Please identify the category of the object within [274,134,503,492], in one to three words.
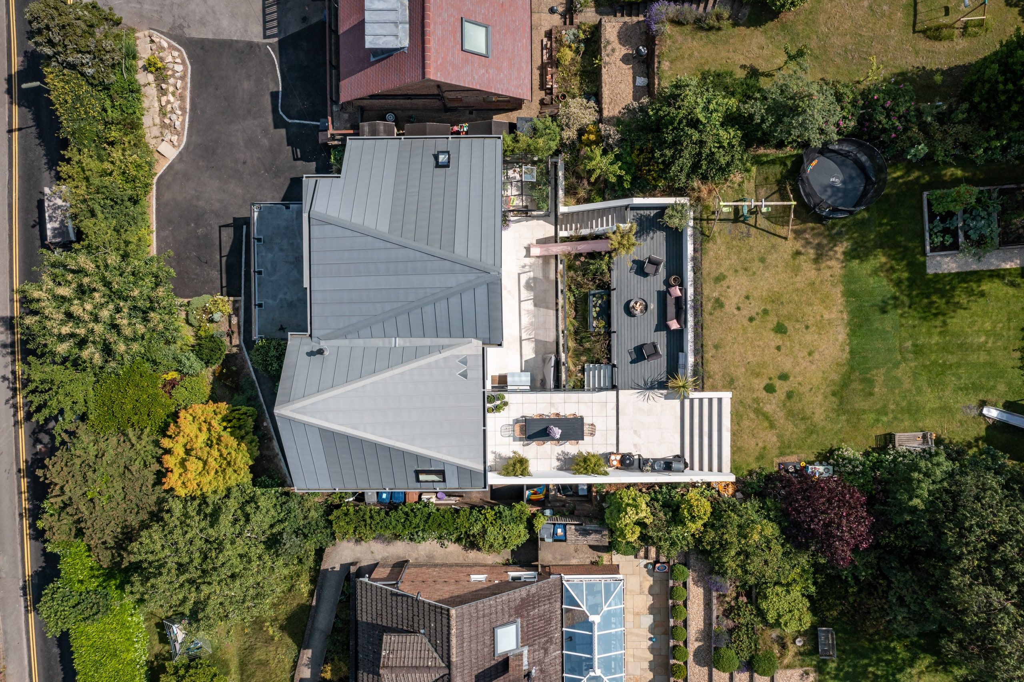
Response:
house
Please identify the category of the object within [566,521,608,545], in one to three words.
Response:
building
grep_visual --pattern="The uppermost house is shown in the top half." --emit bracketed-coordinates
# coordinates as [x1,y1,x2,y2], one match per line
[337,0,533,114]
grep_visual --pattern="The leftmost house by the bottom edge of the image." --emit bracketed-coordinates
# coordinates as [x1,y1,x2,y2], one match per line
[353,559,564,682]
